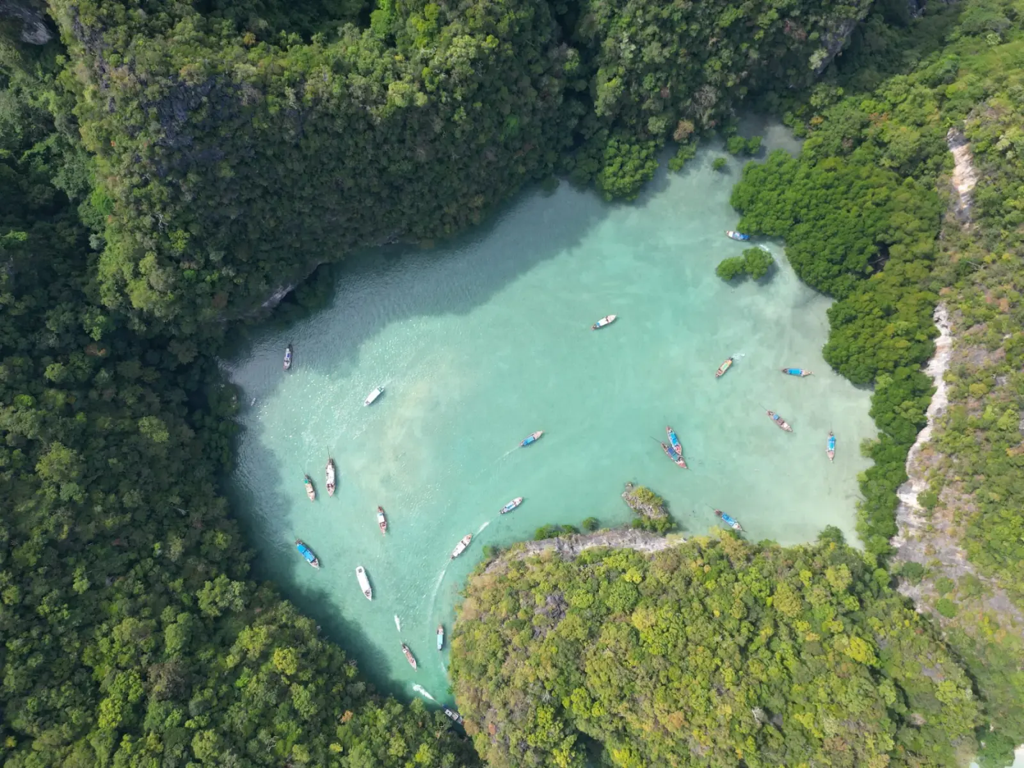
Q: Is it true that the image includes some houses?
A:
No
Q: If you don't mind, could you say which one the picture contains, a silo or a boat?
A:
boat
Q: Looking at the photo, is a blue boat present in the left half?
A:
Yes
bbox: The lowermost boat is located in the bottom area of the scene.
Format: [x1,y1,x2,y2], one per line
[441,703,463,726]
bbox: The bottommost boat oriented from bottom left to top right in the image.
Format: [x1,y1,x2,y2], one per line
[450,534,472,560]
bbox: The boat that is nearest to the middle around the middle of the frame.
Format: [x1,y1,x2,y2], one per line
[515,431,544,449]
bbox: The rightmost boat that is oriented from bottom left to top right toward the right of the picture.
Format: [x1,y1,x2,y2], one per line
[717,358,733,378]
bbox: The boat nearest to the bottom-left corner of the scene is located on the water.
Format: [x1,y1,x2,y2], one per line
[294,536,319,570]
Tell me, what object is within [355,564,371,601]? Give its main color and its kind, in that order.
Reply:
white boat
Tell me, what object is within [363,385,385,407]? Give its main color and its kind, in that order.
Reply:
white boat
